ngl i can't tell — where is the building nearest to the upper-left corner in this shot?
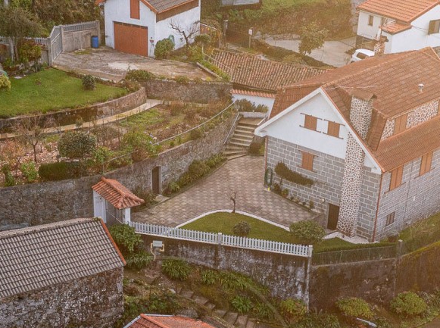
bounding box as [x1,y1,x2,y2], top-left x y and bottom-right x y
[96,0,205,63]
